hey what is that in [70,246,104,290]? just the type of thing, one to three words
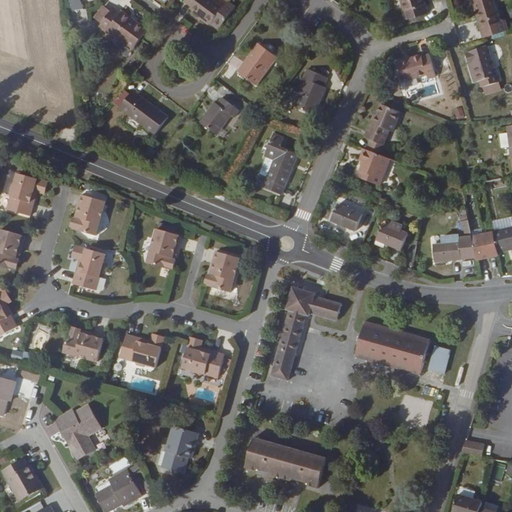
house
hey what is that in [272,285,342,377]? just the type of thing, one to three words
building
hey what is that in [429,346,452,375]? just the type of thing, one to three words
shed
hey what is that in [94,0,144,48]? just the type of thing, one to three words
house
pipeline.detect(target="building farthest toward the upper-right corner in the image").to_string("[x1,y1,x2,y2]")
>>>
[472,0,506,37]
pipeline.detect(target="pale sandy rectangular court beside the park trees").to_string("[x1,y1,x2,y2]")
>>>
[402,394,434,426]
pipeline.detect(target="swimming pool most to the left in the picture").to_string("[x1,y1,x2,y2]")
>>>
[130,376,157,392]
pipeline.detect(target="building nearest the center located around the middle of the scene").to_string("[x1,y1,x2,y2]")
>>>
[204,251,238,291]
